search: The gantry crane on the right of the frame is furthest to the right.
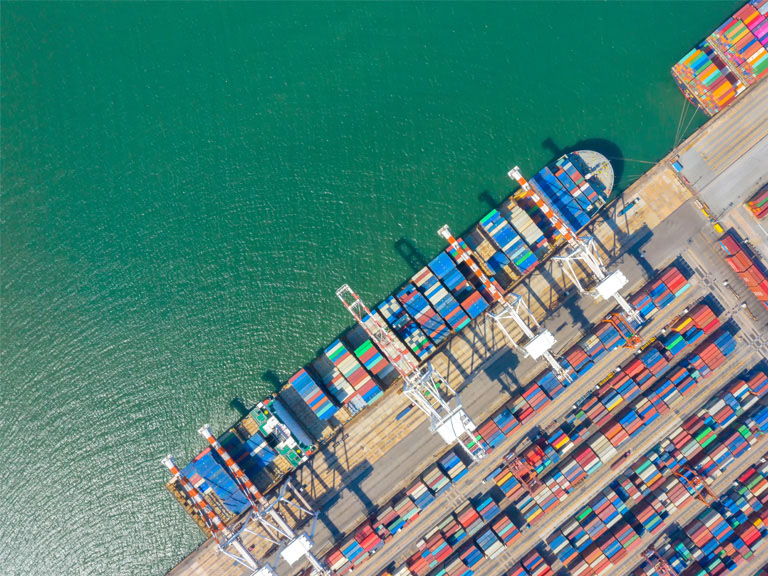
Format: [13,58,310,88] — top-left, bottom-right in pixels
[668,461,714,504]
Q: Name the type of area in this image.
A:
port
